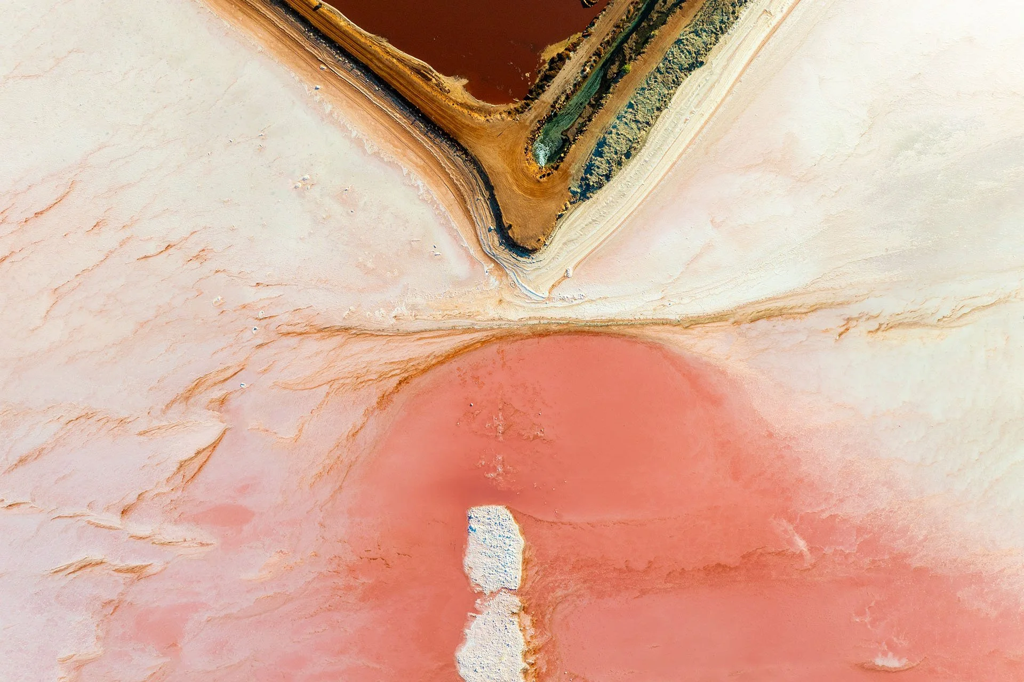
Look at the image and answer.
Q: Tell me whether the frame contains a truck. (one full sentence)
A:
No, the photo shows no truck.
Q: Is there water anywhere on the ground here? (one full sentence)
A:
Yes, there is water in the image.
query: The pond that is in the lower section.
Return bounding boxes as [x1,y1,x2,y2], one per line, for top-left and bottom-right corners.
[203,335,1024,682]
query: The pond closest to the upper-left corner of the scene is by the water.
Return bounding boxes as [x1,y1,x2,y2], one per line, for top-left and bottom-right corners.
[323,0,610,104]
